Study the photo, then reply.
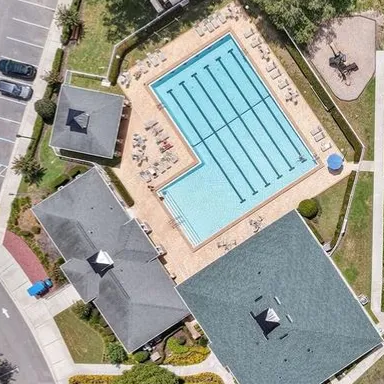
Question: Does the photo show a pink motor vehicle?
No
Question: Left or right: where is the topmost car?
left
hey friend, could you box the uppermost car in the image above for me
[0,60,35,80]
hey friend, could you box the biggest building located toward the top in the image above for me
[49,84,126,159]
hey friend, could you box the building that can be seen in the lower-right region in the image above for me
[175,209,384,384]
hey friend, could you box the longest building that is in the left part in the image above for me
[30,166,192,353]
